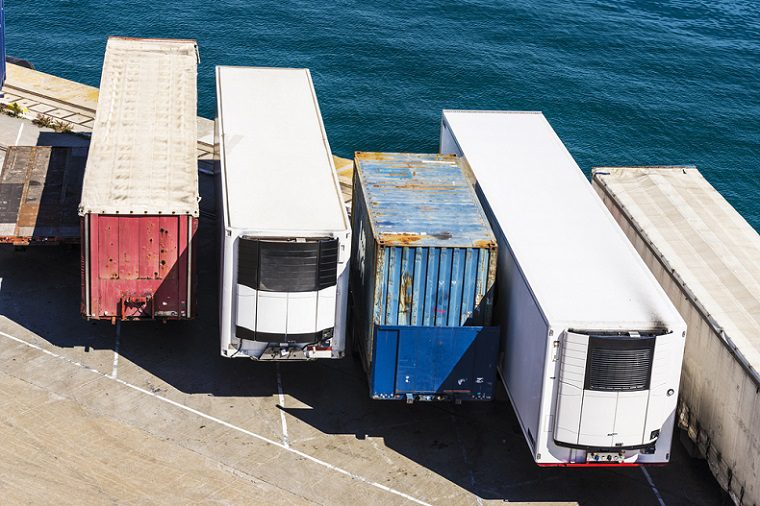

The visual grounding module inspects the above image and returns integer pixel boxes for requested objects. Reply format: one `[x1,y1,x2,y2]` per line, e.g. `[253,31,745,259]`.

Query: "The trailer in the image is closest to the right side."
[589,166,760,506]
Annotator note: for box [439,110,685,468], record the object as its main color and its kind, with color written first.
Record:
white trailer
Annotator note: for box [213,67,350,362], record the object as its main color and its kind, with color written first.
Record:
white trailer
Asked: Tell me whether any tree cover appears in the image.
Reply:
No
